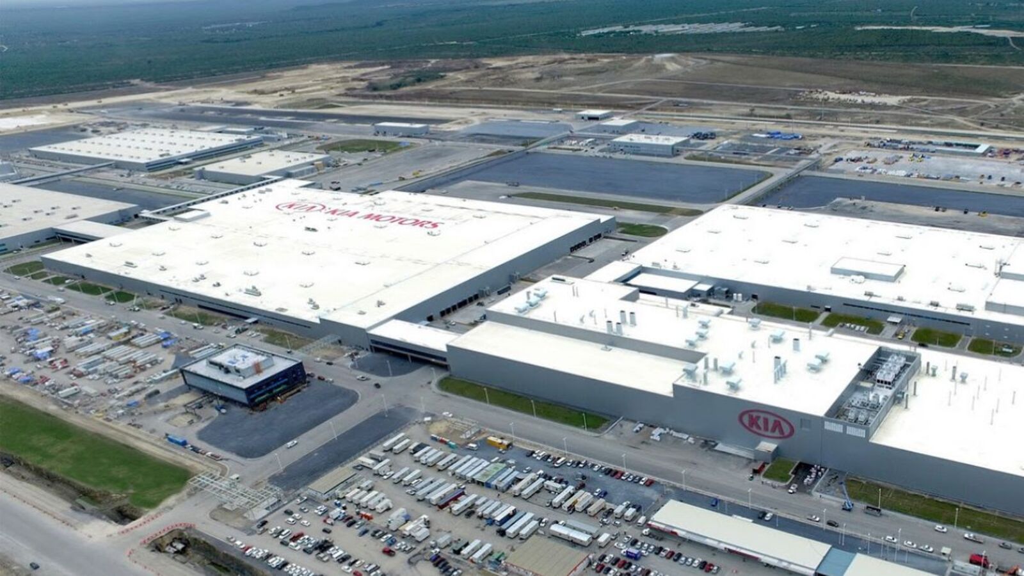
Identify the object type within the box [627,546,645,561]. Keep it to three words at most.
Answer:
vehicle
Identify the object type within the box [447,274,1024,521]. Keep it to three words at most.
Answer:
building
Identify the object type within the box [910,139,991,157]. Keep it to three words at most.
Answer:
shed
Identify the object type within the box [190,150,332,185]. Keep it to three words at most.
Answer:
building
